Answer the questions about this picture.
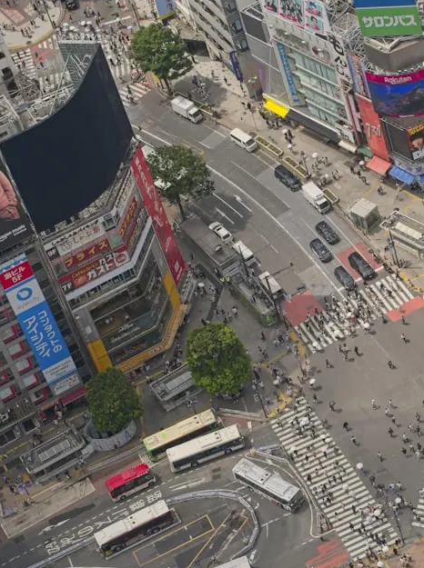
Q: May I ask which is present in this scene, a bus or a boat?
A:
bus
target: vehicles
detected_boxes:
[237,459,306,517]
[168,427,247,478]
[273,161,301,189]
[94,502,177,559]
[314,220,341,244]
[167,92,202,120]
[101,462,156,504]
[231,236,257,263]
[213,221,234,241]
[144,411,221,467]
[257,266,283,297]
[299,177,331,212]
[346,247,376,279]
[308,237,335,262]
[331,264,358,290]
[229,125,259,150]
[64,0,79,13]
